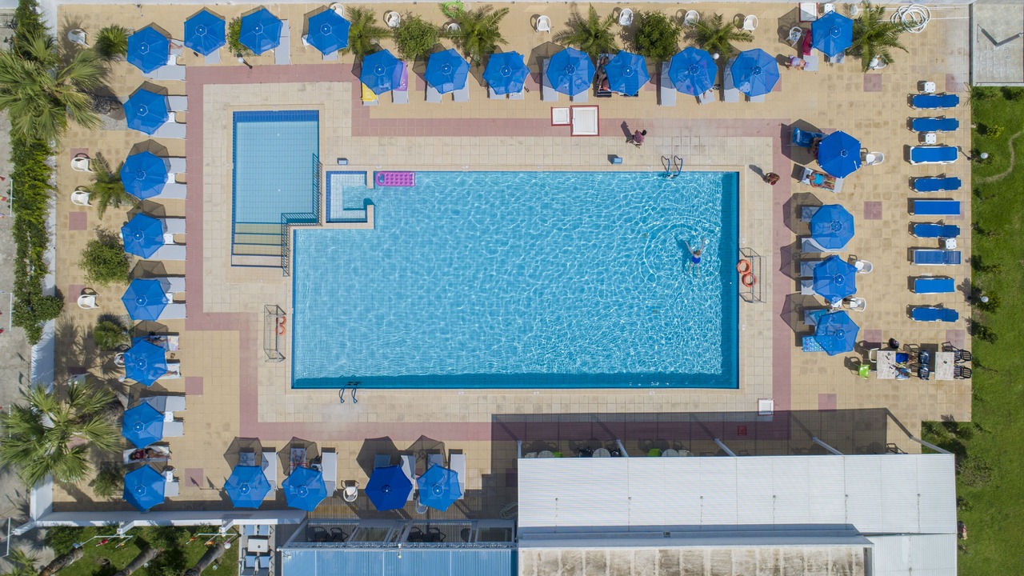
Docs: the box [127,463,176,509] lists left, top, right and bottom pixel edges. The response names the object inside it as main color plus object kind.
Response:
blue umbrella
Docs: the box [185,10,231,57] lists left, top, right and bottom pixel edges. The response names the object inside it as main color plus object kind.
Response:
blue umbrella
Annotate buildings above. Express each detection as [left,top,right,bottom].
[517,435,958,576]
[280,518,515,576]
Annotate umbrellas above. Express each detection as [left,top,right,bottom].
[808,308,858,353]
[423,48,469,94]
[483,52,530,97]
[804,203,852,247]
[807,11,849,59]
[545,47,594,97]
[284,461,329,508]
[806,254,853,302]
[366,465,414,509]
[125,399,175,444]
[419,461,461,507]
[126,212,169,258]
[127,338,178,385]
[241,10,284,57]
[227,464,275,505]
[602,51,649,100]
[729,49,777,99]
[810,131,859,179]
[123,150,173,199]
[127,463,176,509]
[668,47,717,96]
[132,27,180,72]
[127,87,177,134]
[125,278,177,321]
[360,49,405,97]
[310,9,351,56]
[185,10,231,57]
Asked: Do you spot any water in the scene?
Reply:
Yes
